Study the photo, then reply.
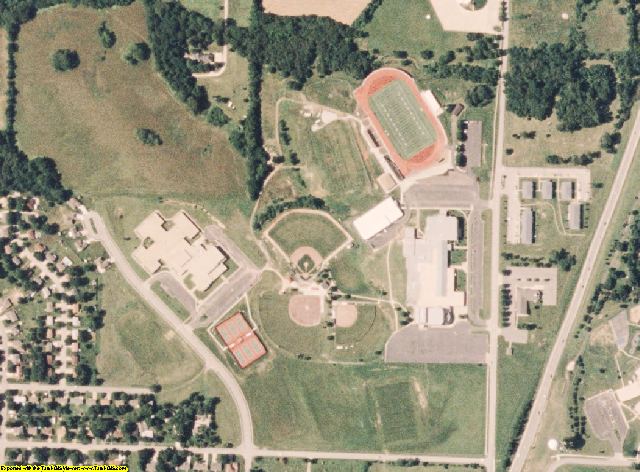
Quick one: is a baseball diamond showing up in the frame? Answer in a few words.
Yes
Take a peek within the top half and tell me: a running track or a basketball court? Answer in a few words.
running track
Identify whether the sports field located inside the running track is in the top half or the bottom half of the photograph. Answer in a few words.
top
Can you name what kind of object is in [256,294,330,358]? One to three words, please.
baseball field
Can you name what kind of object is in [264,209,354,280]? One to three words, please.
baseball field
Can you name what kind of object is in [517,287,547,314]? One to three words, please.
building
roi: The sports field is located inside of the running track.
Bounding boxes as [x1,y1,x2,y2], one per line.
[366,78,439,162]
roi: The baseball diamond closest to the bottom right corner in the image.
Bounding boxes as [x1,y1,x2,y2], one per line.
[335,303,376,343]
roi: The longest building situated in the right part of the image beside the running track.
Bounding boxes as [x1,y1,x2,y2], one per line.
[404,209,466,324]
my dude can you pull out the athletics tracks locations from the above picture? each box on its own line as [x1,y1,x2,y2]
[346,65,448,183]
